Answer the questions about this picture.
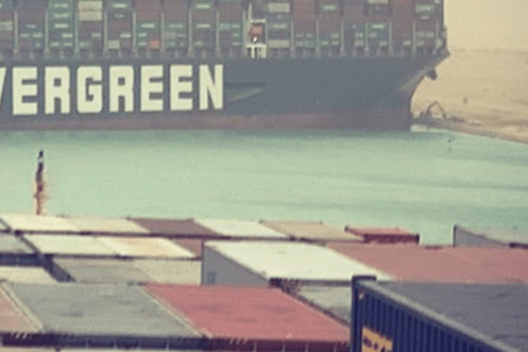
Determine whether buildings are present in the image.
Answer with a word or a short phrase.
No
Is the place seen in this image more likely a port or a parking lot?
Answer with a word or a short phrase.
port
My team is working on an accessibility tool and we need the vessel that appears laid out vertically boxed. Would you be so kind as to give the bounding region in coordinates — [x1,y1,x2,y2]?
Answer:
[32,155,48,215]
